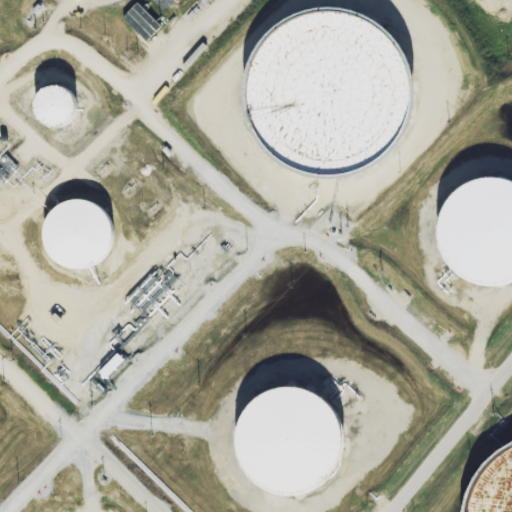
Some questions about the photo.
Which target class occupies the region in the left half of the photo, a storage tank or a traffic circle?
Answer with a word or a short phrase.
storage tank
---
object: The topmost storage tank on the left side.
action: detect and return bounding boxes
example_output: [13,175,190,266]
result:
[32,84,78,129]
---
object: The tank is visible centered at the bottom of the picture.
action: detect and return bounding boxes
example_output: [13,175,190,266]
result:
[234,386,344,496]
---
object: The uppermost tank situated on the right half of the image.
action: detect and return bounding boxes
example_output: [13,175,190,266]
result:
[242,6,414,177]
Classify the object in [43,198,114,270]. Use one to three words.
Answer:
storage tank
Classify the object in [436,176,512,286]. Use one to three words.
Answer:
storage tank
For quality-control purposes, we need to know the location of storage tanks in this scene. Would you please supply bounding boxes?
[32,84,78,129]
[242,6,414,177]
[234,386,344,496]
[43,198,114,270]
[436,176,512,286]
[462,442,512,512]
